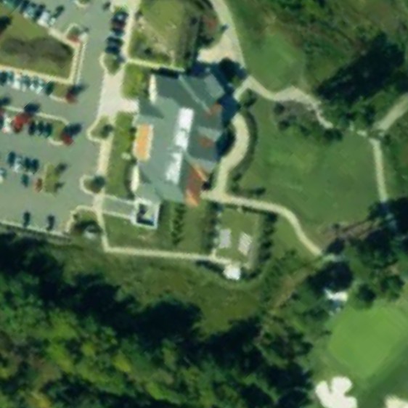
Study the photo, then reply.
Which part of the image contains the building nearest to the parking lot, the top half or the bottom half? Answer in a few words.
top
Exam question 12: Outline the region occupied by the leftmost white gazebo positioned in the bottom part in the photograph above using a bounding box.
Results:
[223,264,240,282]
